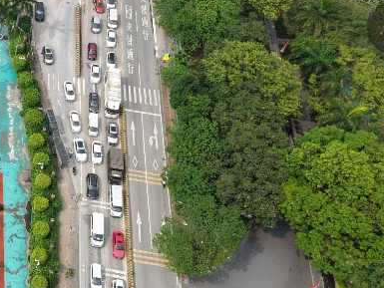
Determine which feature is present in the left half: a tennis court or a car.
car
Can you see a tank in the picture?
No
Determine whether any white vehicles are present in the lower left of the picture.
Yes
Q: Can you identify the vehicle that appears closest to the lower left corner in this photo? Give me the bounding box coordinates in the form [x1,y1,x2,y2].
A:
[88,262,105,288]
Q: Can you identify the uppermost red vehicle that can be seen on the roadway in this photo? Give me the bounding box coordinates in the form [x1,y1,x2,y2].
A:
[92,0,106,12]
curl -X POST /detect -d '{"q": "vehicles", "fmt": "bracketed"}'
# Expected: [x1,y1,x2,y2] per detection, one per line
[62,82,77,102]
[106,145,127,184]
[85,174,101,199]
[68,111,83,133]
[90,13,103,33]
[90,141,104,164]
[105,123,120,145]
[89,211,107,247]
[88,262,105,288]
[105,50,118,67]
[105,29,118,47]
[89,63,102,84]
[107,183,126,218]
[110,232,126,260]
[102,67,125,115]
[34,2,45,20]
[87,93,101,114]
[92,0,106,12]
[72,139,88,162]
[86,111,101,137]
[106,8,119,28]
[110,279,124,288]
[86,42,99,61]
[106,0,117,8]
